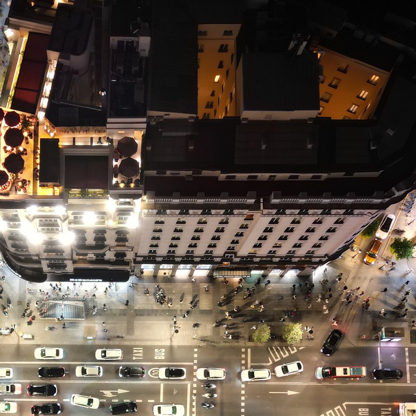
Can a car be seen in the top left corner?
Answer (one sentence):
No, there is no car in the top left corner.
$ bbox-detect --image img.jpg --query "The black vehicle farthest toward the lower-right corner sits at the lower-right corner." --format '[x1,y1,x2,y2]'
[371,368,403,381]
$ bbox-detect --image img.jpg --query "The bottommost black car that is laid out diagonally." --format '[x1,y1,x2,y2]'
[319,328,343,358]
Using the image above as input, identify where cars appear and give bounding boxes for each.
[95,348,123,361]
[319,328,343,358]
[363,237,382,266]
[154,404,183,416]
[0,383,25,396]
[196,368,226,381]
[118,365,147,379]
[28,383,57,397]
[273,360,305,379]
[34,347,64,361]
[371,368,403,381]
[108,401,138,416]
[241,369,271,382]
[37,365,66,379]
[0,368,14,380]
[31,402,61,416]
[157,366,187,381]
[75,364,103,379]
[69,394,100,410]
[0,401,18,414]
[375,215,394,242]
